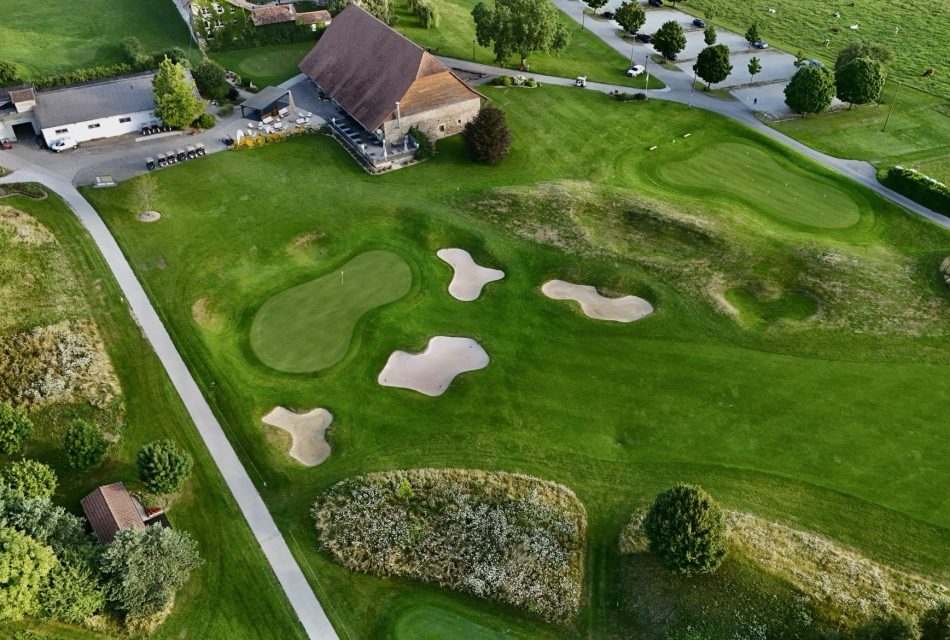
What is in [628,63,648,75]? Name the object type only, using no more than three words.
vehicle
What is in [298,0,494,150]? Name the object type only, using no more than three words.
barn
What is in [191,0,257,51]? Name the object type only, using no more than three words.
house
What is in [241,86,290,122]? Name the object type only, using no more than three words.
building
